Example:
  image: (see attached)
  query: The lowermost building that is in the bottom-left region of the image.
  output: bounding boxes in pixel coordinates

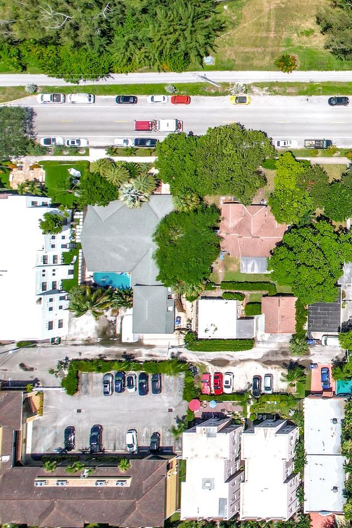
[0,387,181,528]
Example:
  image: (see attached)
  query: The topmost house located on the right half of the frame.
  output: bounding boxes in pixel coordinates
[218,203,288,273]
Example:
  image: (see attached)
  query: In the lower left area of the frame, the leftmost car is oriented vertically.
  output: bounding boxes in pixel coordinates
[65,426,77,451]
